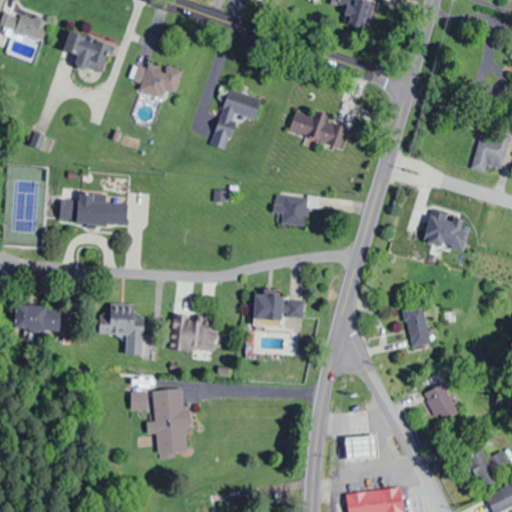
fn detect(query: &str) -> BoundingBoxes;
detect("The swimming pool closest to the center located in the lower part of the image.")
[247,324,298,356]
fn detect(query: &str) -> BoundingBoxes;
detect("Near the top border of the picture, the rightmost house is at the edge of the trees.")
[330,0,374,29]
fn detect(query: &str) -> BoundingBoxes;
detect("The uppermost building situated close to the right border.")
[471,138,512,172]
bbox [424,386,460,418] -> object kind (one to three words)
house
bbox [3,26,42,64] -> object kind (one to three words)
swimming pool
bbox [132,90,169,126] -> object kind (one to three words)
swimming pool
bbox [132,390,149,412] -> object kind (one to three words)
building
